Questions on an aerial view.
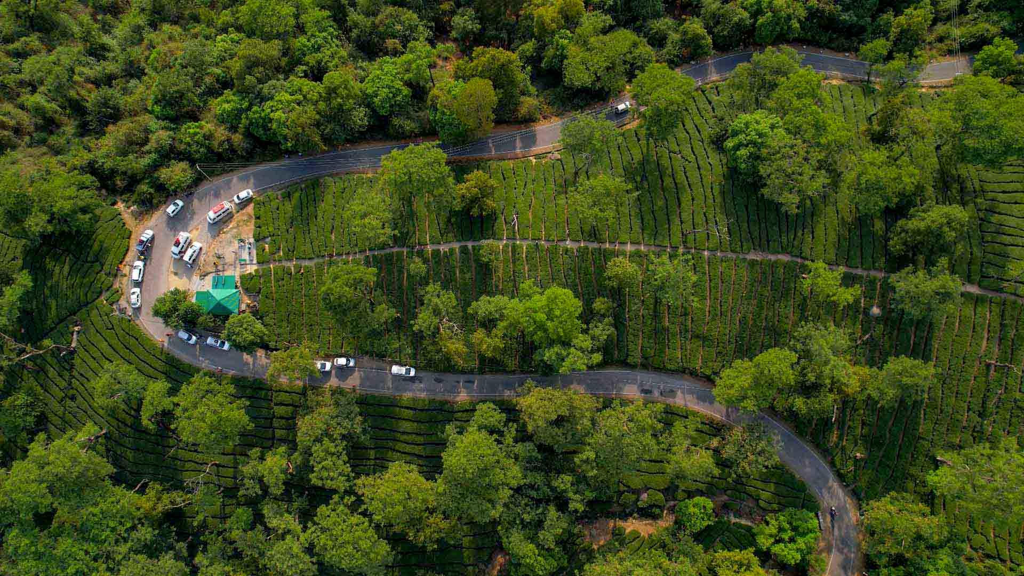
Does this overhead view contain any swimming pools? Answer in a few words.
No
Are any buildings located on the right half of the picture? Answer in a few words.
No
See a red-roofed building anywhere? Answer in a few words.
No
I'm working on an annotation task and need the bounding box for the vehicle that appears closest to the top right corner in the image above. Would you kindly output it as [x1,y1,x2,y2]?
[613,103,632,117]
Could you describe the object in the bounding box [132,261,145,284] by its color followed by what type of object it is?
white vehicle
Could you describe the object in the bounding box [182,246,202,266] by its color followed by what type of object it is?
white vehicle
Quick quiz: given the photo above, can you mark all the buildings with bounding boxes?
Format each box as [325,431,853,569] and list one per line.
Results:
[192,276,242,317]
